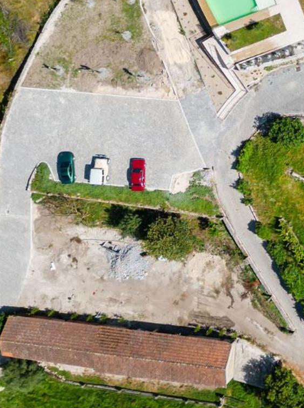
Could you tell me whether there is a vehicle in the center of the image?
Yes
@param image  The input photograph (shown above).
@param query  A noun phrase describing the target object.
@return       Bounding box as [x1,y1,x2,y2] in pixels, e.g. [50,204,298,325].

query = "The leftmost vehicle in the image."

[53,152,73,186]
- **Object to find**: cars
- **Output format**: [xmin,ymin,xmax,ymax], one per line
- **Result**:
[125,158,144,193]
[86,155,108,187]
[53,152,73,186]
